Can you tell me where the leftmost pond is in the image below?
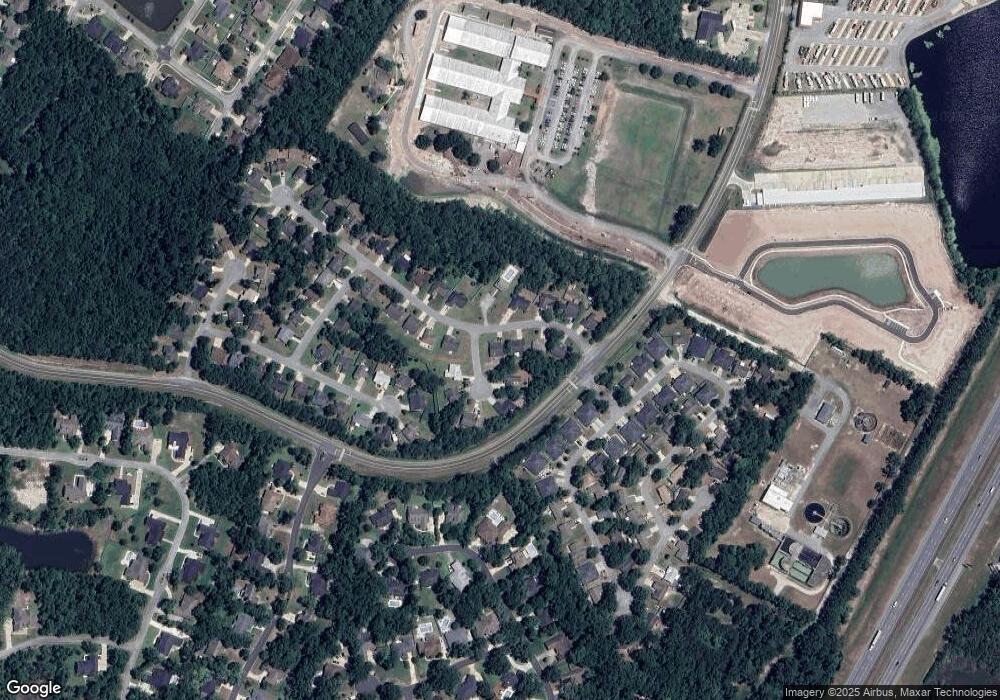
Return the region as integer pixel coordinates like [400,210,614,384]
[0,528,92,570]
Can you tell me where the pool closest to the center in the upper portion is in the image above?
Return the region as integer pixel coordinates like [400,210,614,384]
[501,264,519,282]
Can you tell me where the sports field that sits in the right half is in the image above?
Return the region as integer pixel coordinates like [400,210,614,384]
[592,87,683,230]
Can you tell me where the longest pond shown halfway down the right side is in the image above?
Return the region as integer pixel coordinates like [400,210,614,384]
[758,254,904,307]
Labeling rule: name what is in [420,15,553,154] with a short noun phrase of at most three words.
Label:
building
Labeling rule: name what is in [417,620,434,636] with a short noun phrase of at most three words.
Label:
swimming pool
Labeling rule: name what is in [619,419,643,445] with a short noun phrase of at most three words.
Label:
house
